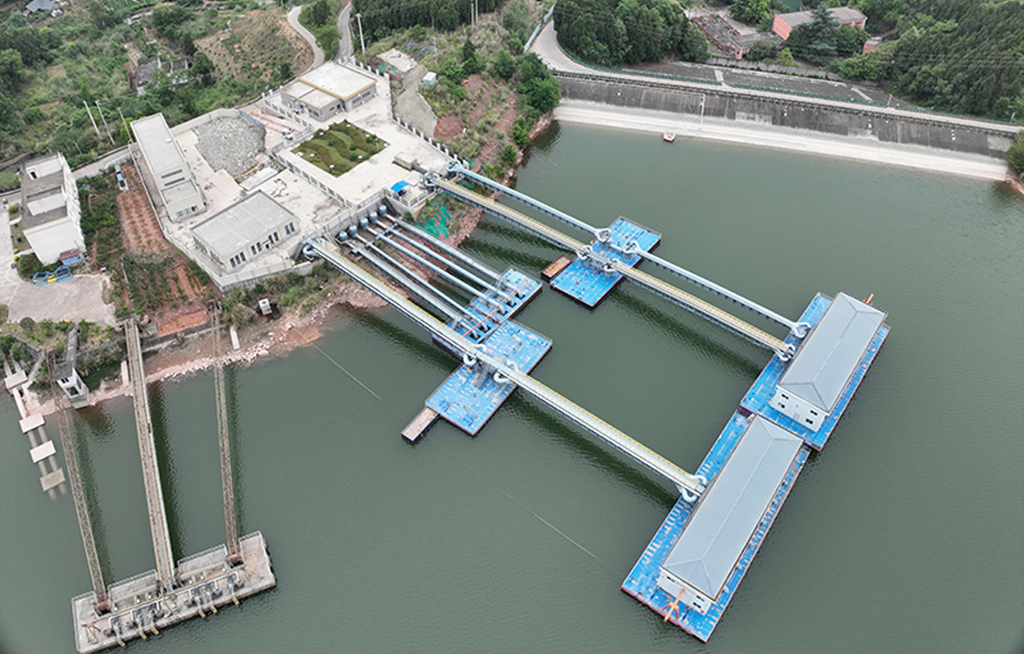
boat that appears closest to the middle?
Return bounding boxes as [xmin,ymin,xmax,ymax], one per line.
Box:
[542,256,571,278]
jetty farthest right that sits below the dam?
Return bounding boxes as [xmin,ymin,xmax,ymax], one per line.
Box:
[550,213,661,311]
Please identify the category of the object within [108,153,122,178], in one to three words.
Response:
vehicle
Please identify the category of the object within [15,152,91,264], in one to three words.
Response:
house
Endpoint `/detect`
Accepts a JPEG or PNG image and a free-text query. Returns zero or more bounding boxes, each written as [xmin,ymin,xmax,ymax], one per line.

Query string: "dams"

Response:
[548,55,1024,184]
